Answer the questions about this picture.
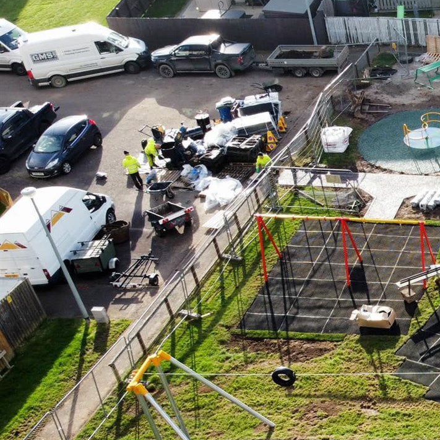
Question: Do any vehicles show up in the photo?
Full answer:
Yes, the frame does contain a vehicle.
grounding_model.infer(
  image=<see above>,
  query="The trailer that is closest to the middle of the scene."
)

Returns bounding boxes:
[140,195,195,235]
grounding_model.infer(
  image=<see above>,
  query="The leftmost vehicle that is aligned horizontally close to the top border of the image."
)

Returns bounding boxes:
[14,19,152,88]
